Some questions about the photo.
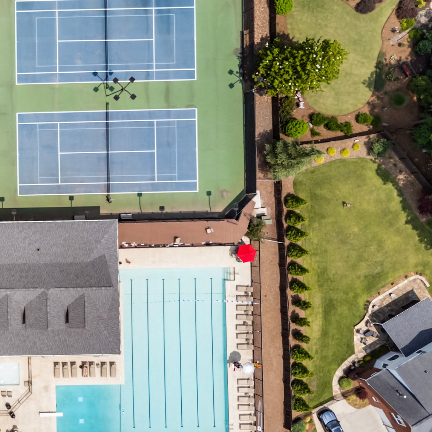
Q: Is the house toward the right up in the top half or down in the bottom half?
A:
bottom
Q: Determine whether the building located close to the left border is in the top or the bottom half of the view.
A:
bottom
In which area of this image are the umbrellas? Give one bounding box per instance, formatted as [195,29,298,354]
[235,243,254,262]
[242,362,254,374]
